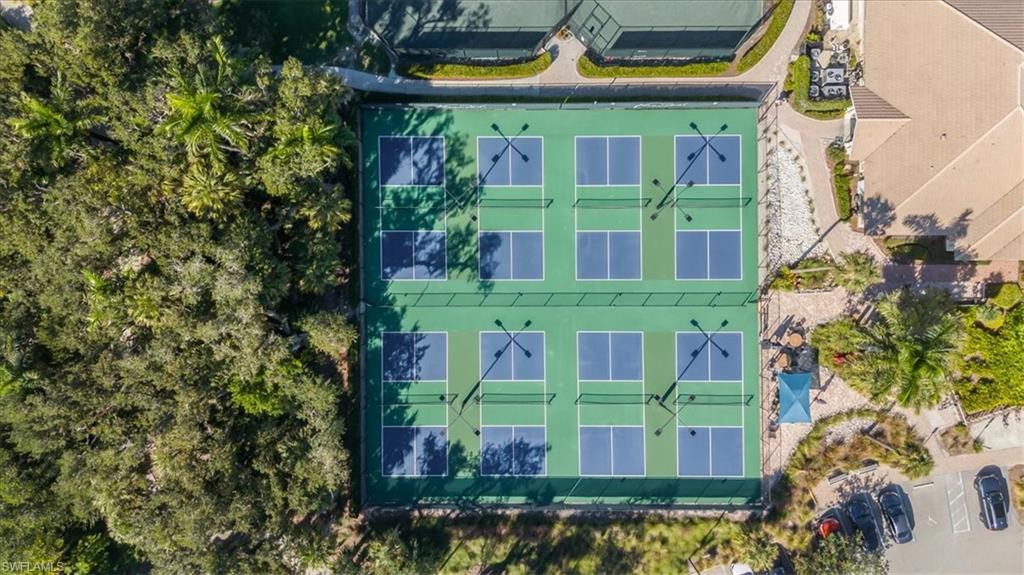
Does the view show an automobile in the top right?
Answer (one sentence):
No, I see no automobile in the top right.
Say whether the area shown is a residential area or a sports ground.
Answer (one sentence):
This image shows a sports ground.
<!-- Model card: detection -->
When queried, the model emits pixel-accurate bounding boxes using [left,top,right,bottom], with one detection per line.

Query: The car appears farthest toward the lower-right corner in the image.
[975,473,1012,531]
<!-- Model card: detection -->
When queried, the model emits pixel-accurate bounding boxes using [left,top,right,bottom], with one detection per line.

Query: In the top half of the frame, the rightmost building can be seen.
[839,0,1024,261]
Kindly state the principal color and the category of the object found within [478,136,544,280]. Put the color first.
blue sports court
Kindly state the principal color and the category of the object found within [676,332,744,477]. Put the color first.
blue sports court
